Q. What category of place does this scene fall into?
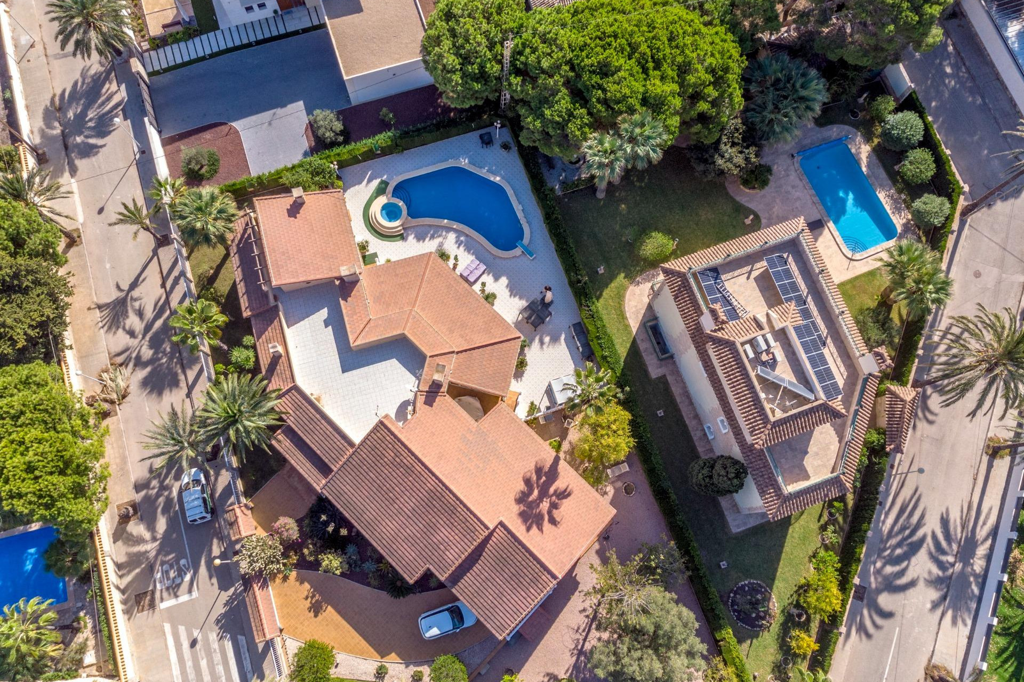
residential area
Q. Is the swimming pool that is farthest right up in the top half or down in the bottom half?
top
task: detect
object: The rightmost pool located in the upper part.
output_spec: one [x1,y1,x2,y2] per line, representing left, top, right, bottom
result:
[793,136,903,258]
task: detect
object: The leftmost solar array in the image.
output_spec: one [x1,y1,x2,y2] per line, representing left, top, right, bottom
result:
[697,268,740,324]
